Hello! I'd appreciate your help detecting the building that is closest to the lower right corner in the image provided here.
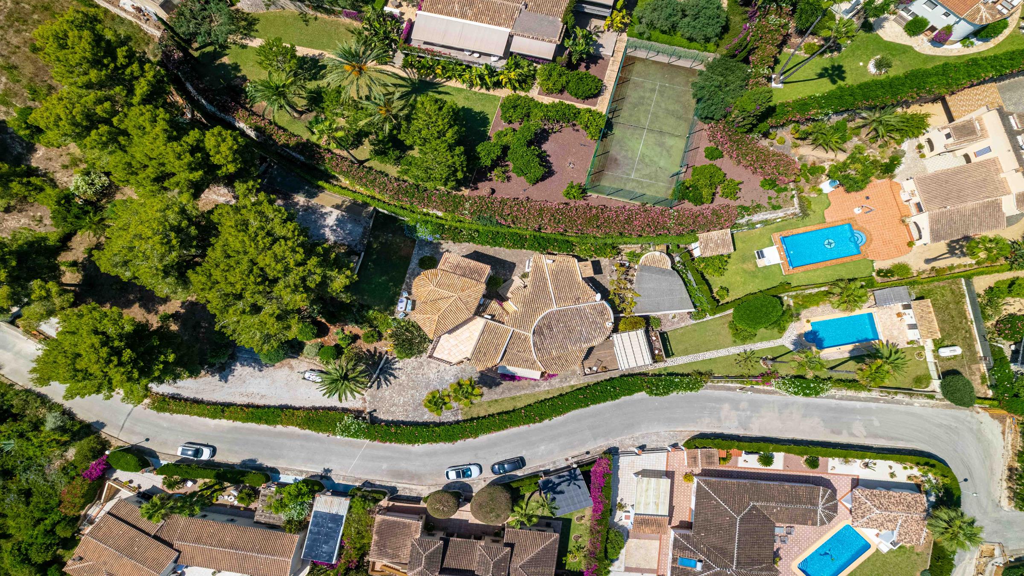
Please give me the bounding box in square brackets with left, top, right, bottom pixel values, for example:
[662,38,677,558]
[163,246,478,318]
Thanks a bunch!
[835,487,927,554]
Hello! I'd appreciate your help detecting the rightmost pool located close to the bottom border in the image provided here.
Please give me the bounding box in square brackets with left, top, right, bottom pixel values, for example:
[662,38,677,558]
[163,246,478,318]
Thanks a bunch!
[798,525,871,576]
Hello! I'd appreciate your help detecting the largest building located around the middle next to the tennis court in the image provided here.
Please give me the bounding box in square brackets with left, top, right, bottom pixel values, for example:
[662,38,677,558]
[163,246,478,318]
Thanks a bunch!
[411,252,615,379]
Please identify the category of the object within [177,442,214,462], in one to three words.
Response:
car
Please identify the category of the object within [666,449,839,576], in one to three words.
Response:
house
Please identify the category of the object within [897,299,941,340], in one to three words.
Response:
building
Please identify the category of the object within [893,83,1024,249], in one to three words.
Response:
house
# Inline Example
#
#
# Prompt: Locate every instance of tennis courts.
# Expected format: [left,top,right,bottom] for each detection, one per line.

[587,49,703,206]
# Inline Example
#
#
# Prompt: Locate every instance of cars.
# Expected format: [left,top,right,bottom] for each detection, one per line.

[445,462,481,481]
[491,456,526,476]
[177,442,214,462]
